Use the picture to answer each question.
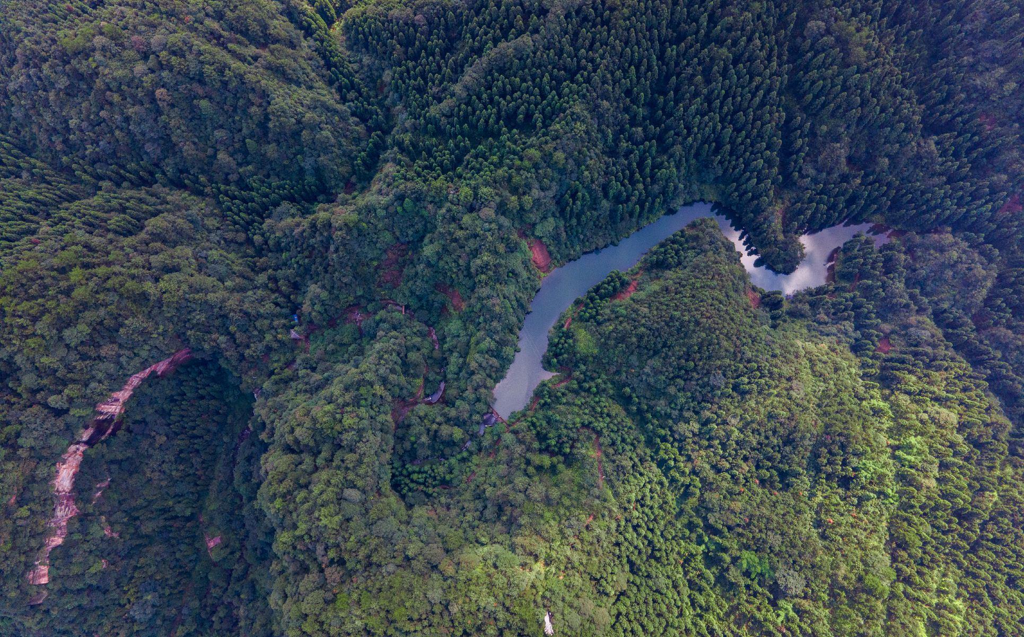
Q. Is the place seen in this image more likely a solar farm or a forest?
forest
